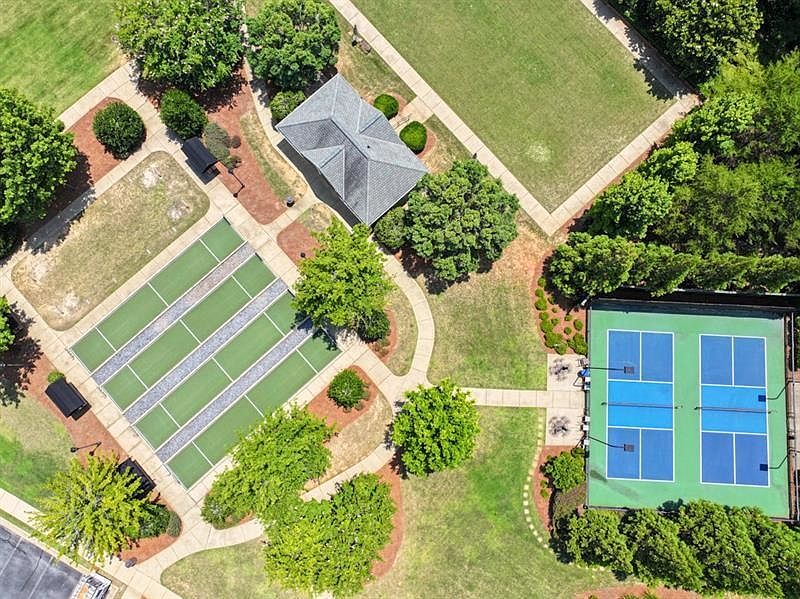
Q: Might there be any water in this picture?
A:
No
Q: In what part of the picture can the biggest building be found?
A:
top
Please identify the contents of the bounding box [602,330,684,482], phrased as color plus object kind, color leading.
blue sports court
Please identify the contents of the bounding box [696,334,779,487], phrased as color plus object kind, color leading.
blue sports court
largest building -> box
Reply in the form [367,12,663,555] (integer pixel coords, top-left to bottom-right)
[275,73,430,229]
